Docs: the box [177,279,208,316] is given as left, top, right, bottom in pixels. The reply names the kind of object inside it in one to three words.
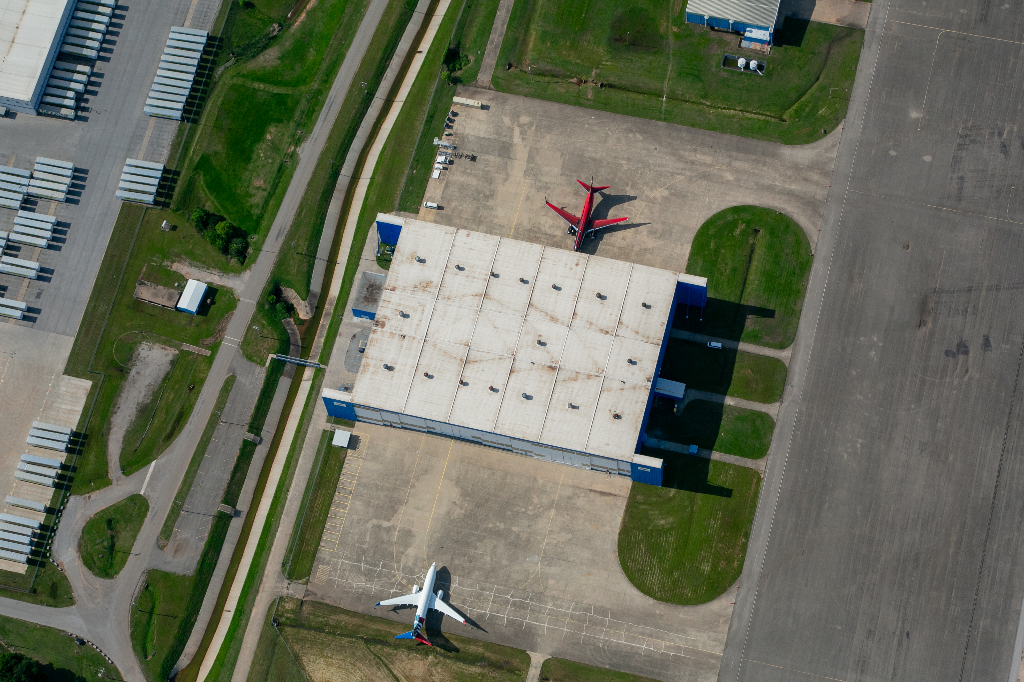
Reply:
shed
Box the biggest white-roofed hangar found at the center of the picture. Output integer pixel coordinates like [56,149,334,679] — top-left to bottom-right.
[321,213,708,486]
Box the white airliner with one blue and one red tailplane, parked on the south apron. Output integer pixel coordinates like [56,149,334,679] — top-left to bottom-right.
[375,563,466,645]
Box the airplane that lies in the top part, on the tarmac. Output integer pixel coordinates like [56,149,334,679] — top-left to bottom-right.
[546,178,630,253]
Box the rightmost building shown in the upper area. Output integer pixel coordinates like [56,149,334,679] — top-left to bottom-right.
[685,0,781,44]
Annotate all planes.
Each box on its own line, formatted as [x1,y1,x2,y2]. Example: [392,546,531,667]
[546,178,630,253]
[375,563,466,645]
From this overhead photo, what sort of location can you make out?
airport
